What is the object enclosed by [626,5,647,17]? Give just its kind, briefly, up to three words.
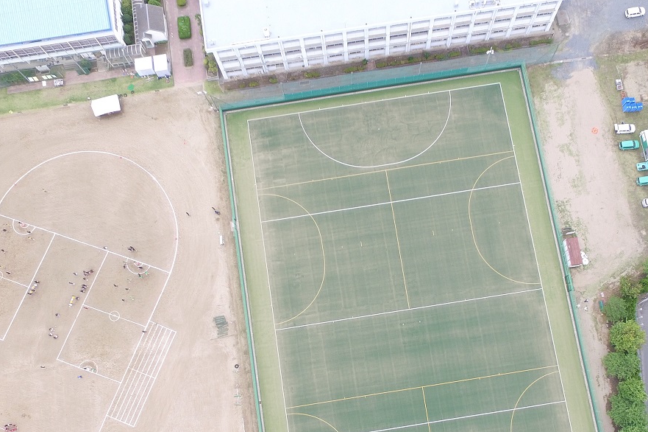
vehicle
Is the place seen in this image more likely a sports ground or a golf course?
sports ground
